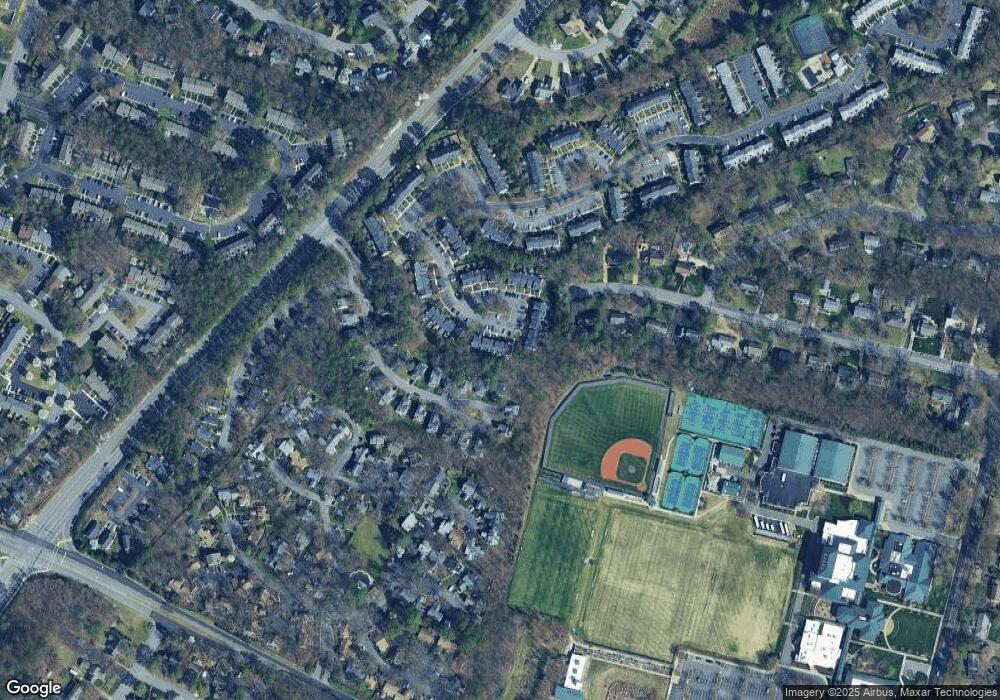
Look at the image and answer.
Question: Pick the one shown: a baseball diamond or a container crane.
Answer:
baseball diamond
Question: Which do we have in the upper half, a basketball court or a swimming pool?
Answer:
swimming pool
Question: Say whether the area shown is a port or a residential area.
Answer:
residential area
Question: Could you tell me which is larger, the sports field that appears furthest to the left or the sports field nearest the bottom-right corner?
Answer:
the sports field nearest the bottom-right corner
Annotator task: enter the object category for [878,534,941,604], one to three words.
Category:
building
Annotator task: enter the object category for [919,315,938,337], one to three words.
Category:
house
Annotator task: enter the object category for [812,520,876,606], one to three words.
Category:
building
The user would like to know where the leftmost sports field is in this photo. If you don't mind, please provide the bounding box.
[509,480,603,622]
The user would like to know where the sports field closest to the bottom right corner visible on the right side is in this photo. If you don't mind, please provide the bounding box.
[568,499,798,666]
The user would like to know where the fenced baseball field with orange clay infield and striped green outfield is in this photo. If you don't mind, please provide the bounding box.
[543,377,671,497]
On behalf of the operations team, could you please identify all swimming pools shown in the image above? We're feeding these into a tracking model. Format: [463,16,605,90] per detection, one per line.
[797,57,833,89]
